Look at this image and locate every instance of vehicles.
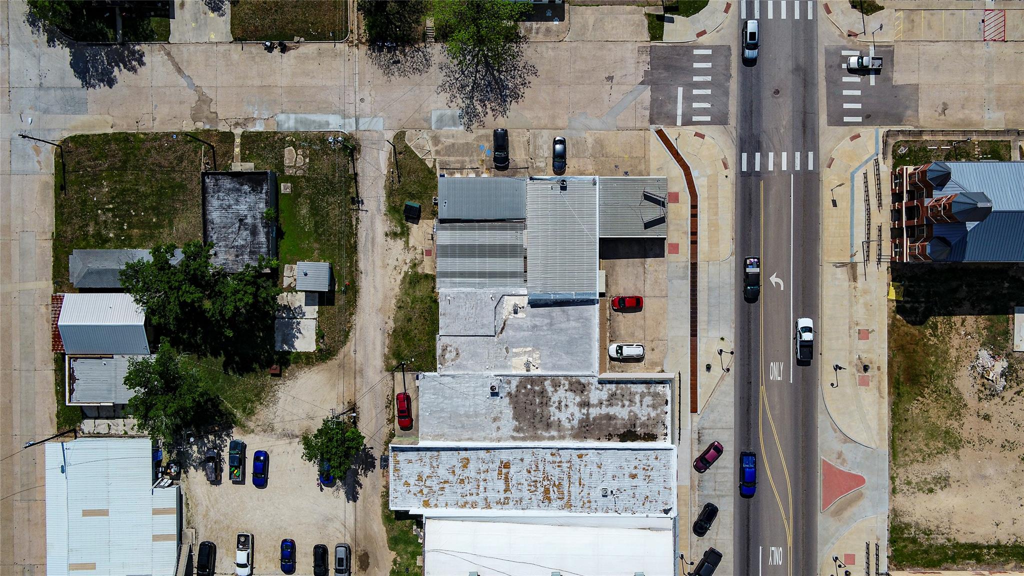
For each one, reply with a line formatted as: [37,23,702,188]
[692,500,719,537]
[492,128,510,169]
[252,449,269,487]
[227,439,246,482]
[743,256,762,302]
[741,20,760,59]
[610,295,644,310]
[279,538,296,574]
[688,546,721,576]
[551,135,567,173]
[195,540,215,576]
[694,439,724,473]
[795,318,814,360]
[313,543,329,576]
[319,455,333,487]
[236,533,254,576]
[608,343,645,360]
[396,391,412,427]
[845,54,883,71]
[739,451,758,496]
[203,449,221,483]
[334,541,351,576]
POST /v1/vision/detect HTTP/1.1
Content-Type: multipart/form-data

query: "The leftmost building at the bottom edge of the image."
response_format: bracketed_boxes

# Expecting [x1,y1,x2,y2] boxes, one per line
[46,433,185,576]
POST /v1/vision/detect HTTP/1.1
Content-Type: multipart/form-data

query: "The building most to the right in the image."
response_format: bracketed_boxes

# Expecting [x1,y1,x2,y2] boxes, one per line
[888,160,1024,270]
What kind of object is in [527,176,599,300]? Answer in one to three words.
building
